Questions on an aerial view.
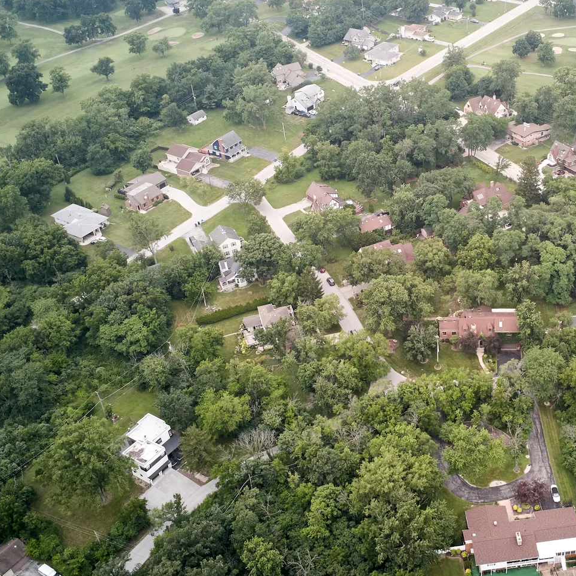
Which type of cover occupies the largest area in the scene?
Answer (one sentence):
The scene is dominated by trees.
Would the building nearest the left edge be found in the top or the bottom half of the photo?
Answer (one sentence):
It is in the bottom half that the building nearest the left edge appears.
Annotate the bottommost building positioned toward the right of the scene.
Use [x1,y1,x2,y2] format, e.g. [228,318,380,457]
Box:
[462,500,576,576]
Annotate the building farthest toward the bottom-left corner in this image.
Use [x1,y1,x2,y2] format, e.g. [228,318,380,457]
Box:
[0,540,34,576]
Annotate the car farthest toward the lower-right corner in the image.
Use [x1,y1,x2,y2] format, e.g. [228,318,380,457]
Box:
[549,482,561,503]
